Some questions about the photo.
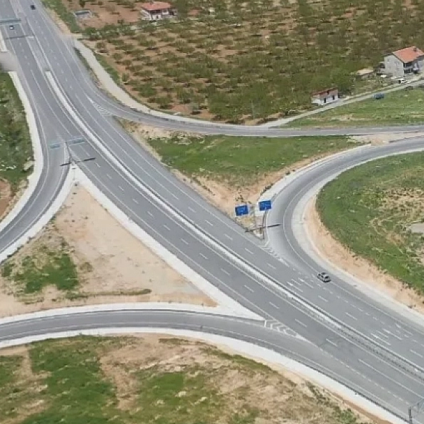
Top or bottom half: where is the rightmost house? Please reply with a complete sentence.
Seen from above, the rightmost house lies in the top half of the view.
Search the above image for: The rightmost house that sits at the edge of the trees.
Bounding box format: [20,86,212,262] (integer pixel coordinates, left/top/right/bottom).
[388,48,424,78]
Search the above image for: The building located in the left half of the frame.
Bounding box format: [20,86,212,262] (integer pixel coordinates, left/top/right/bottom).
[137,1,177,20]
